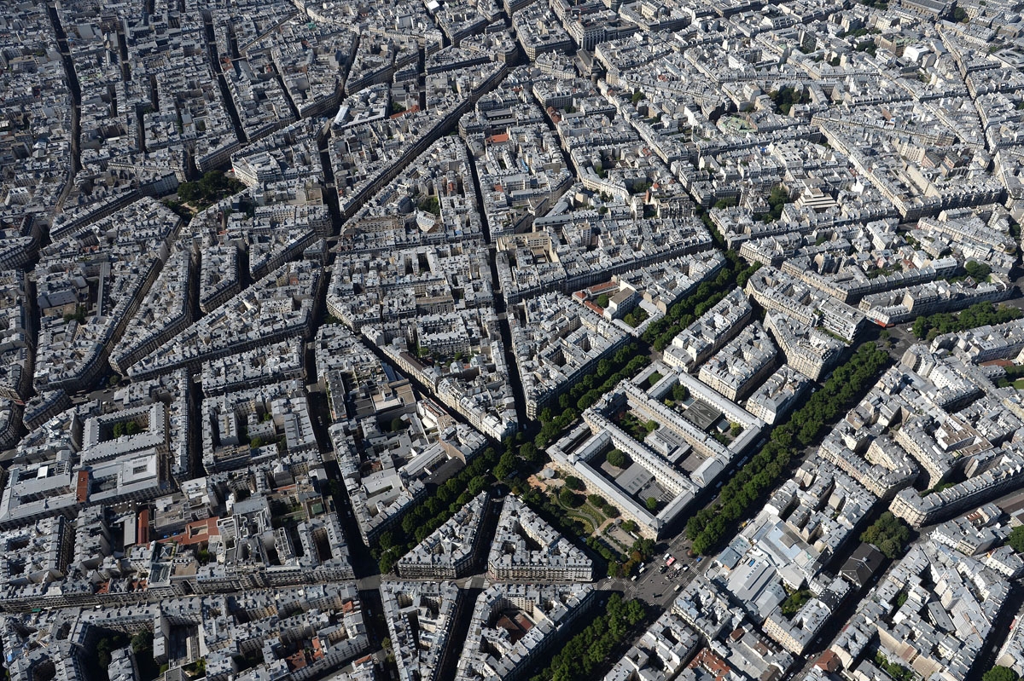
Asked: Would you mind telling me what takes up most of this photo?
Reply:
buildings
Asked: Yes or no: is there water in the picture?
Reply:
No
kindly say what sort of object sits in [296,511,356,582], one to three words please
building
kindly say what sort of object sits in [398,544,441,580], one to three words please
building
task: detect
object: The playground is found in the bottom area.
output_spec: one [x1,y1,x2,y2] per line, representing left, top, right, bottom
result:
[525,464,565,496]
